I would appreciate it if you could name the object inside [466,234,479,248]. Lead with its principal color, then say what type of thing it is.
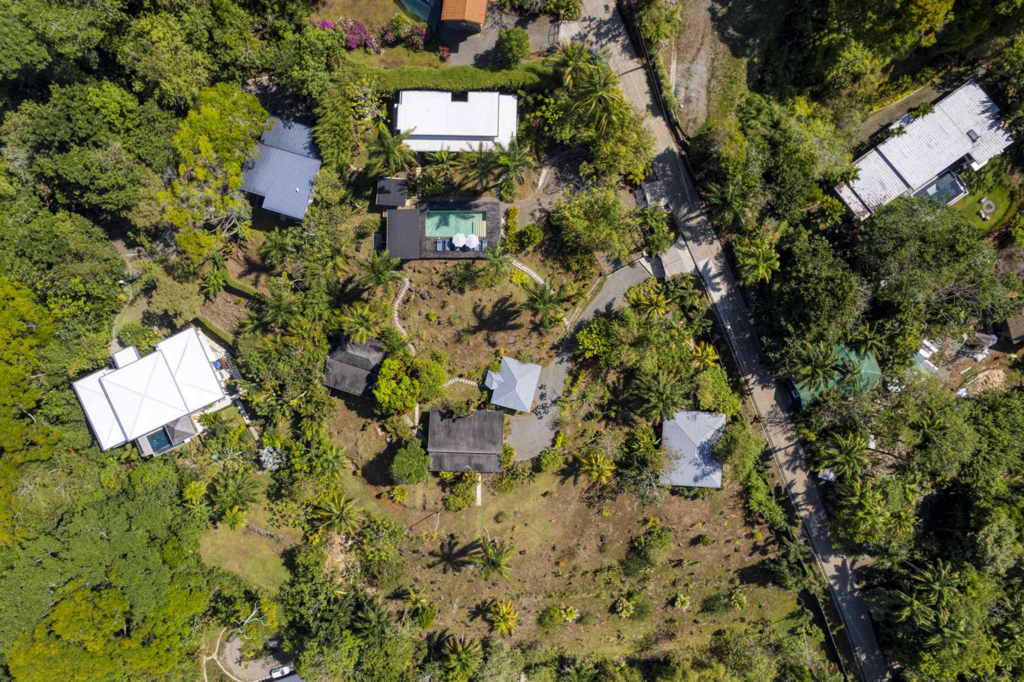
white umbrella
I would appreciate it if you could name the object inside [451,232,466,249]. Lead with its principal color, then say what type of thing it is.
white umbrella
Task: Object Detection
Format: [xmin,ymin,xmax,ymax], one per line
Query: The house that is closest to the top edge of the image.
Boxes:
[441,0,487,33]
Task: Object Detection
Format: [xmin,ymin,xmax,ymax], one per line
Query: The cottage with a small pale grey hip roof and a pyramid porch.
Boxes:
[484,356,541,413]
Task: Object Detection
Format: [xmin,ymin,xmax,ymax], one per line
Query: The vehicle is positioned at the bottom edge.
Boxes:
[268,663,292,681]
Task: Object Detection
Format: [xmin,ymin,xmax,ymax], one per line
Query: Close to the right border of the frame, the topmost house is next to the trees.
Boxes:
[835,80,1013,220]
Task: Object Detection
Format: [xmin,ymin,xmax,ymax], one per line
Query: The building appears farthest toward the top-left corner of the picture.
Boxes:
[243,116,321,218]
